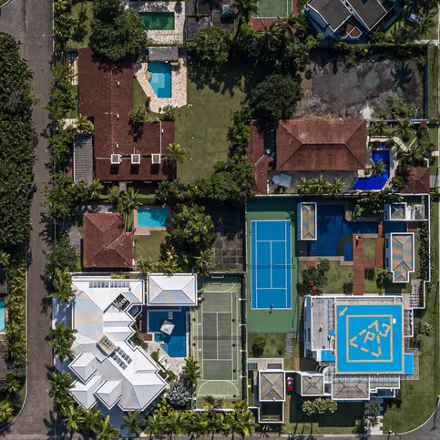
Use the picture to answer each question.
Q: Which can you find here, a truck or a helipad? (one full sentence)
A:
It is a helipad that can be seen here.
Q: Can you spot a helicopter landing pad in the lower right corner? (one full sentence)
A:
Yes, there is a helicopter landing pad in the lower right corner.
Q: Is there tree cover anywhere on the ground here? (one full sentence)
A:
Yes, there is tree cover in the image.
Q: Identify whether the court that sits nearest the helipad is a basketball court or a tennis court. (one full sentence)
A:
In the photo, the court that sits nearest the helipad shows up as a tennis court.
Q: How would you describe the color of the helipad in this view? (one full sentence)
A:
In this view, the helipad is blue.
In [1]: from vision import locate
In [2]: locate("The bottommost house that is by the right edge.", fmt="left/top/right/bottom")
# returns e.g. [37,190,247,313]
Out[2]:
[297,295,419,400]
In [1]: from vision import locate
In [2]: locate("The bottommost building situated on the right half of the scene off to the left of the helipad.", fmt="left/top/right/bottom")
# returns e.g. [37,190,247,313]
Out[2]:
[245,357,285,402]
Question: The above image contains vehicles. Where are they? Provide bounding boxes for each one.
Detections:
[286,376,295,392]
[405,13,421,22]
